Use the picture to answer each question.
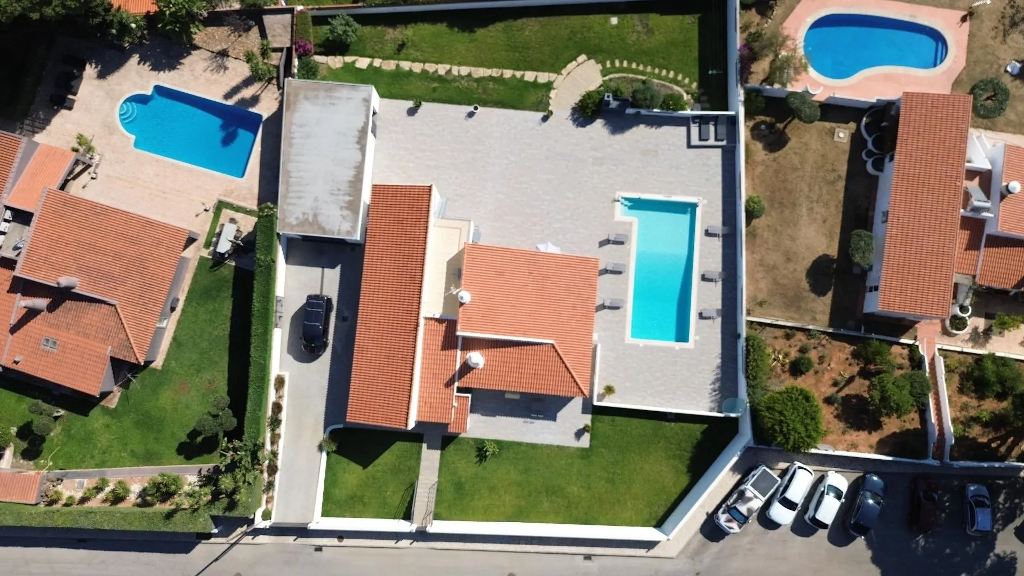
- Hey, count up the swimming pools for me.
3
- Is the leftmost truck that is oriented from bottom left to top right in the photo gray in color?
Yes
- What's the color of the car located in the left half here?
black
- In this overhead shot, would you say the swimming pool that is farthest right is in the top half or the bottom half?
top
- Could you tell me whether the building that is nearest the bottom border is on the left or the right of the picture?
left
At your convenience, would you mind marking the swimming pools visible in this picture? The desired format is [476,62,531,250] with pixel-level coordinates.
[117,83,264,179]
[615,190,706,348]
[795,5,957,88]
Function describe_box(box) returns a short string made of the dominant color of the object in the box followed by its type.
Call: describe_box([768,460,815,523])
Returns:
white car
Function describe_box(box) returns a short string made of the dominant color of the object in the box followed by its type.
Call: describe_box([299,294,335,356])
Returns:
black car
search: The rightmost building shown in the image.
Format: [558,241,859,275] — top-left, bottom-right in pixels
[858,92,1024,323]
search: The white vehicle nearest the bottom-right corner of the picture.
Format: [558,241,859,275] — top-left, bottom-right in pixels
[809,470,845,528]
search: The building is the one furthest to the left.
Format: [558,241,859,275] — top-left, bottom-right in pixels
[0,465,63,504]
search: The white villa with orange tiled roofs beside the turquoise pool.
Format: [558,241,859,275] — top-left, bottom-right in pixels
[345,183,601,434]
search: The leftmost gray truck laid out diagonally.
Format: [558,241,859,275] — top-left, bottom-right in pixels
[718,460,780,535]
